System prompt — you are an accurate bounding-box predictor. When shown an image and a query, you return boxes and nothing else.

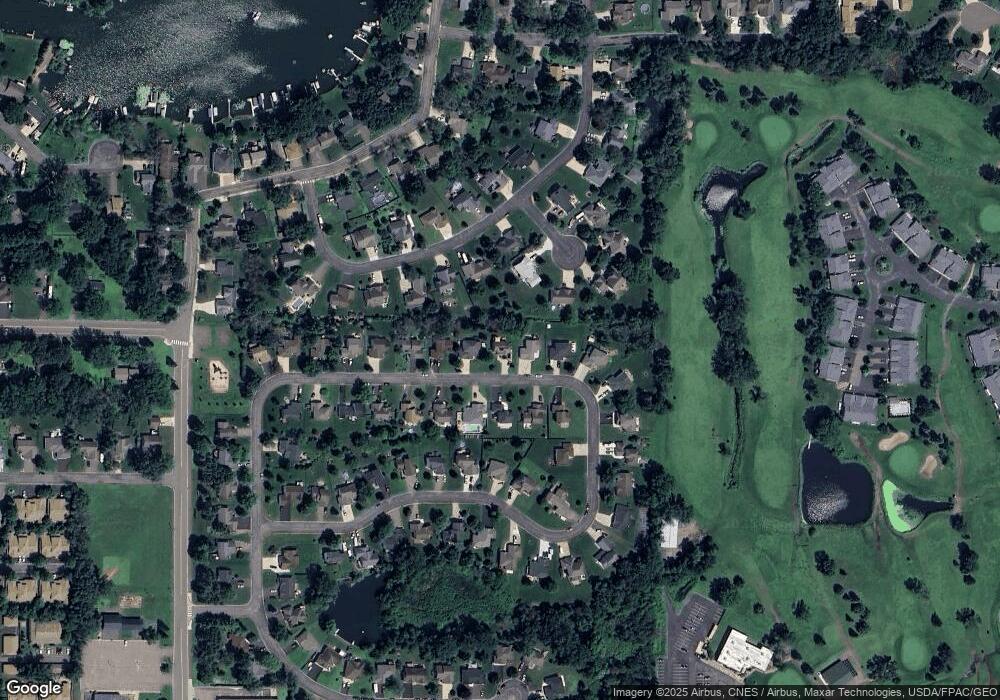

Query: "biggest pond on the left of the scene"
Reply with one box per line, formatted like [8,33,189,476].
[329,575,383,646]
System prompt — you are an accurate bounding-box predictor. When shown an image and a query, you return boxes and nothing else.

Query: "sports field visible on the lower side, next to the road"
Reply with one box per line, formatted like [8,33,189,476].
[80,513,173,596]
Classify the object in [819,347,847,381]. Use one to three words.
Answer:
building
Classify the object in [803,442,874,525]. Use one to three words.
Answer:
pond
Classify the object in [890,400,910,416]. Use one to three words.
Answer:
swimming pool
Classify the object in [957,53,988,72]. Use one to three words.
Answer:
house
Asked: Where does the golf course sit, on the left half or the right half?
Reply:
right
